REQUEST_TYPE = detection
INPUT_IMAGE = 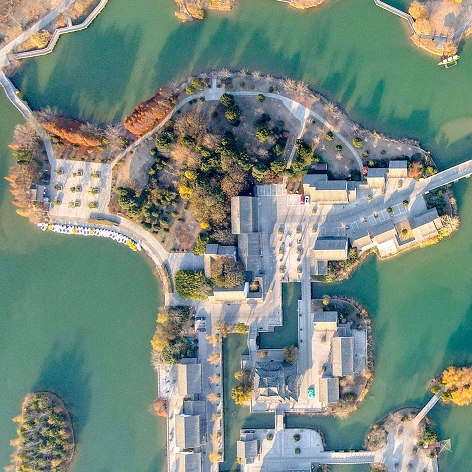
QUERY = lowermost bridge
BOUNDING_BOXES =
[318,451,383,464]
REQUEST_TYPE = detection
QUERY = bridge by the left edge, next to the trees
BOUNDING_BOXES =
[0,64,50,143]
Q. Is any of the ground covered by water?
Yes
